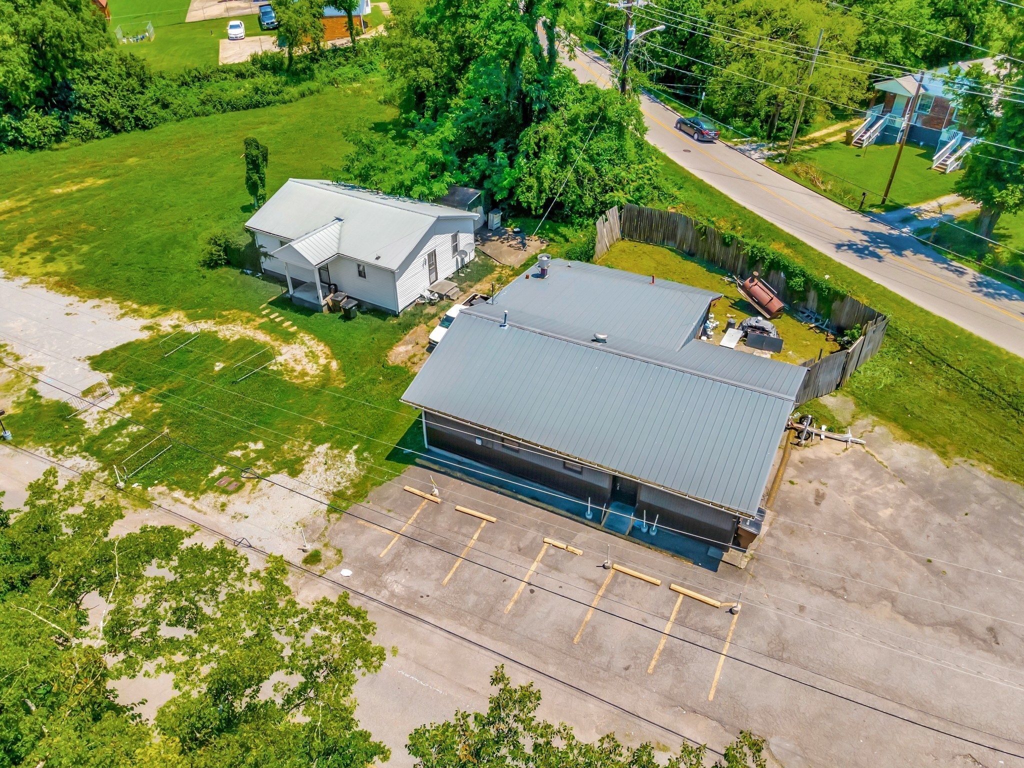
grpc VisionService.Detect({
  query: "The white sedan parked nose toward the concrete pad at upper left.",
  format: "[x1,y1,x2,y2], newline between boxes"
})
[227,23,245,40]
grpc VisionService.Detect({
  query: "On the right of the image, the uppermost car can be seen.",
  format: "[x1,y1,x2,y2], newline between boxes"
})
[678,121,719,144]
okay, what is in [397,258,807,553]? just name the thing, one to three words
building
